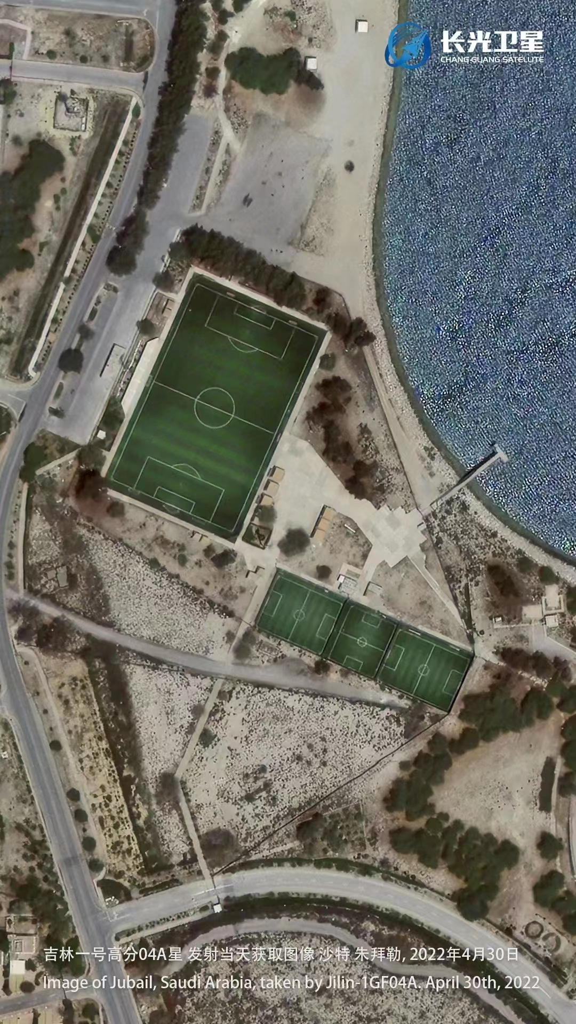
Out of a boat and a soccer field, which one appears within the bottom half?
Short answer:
soccer field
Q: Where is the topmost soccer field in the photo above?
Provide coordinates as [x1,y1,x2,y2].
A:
[106,272,327,544]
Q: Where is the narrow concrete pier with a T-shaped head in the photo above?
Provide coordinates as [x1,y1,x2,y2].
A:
[430,444,509,509]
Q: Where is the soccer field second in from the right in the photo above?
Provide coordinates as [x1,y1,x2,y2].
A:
[324,599,397,678]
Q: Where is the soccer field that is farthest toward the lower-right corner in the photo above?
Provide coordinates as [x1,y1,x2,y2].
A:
[377,624,473,713]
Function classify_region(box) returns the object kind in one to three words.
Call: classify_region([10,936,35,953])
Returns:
house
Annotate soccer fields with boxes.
[256,568,347,657]
[377,624,473,713]
[324,599,397,678]
[106,272,327,544]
